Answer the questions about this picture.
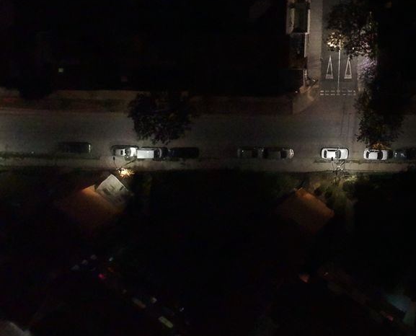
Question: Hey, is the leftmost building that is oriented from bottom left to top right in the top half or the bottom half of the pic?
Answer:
bottom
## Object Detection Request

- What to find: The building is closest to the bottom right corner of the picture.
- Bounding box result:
[204,185,337,336]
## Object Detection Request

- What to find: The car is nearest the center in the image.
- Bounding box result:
[169,148,197,161]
